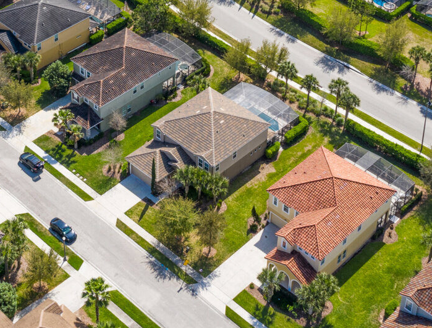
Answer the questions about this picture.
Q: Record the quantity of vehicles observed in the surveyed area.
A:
two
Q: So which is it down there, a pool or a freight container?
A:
pool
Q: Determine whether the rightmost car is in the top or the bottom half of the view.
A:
bottom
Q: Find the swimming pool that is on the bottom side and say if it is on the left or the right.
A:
right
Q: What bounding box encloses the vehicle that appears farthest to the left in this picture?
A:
[17,150,46,174]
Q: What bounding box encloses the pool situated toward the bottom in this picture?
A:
[379,196,408,228]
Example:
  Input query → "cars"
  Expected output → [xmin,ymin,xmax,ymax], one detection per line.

[17,150,46,174]
[48,216,77,242]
